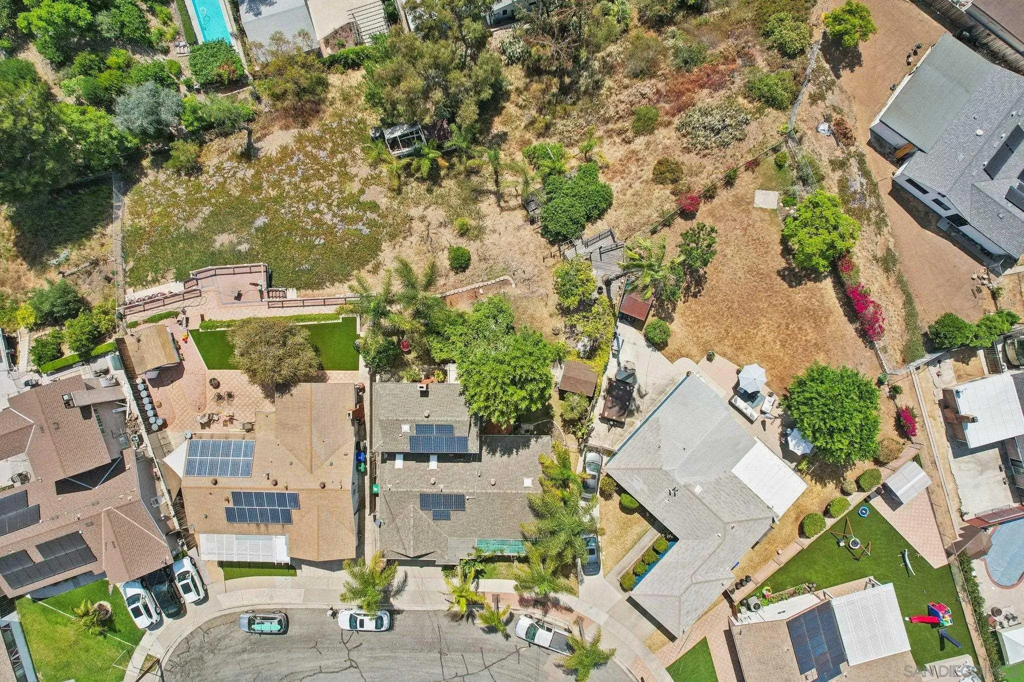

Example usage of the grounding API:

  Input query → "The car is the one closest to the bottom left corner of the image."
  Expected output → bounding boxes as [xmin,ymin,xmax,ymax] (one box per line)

[119,582,156,635]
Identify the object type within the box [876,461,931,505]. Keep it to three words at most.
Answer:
shed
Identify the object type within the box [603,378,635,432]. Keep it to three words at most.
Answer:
trailer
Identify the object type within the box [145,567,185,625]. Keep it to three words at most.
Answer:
car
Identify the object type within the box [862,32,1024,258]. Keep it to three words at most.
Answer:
house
